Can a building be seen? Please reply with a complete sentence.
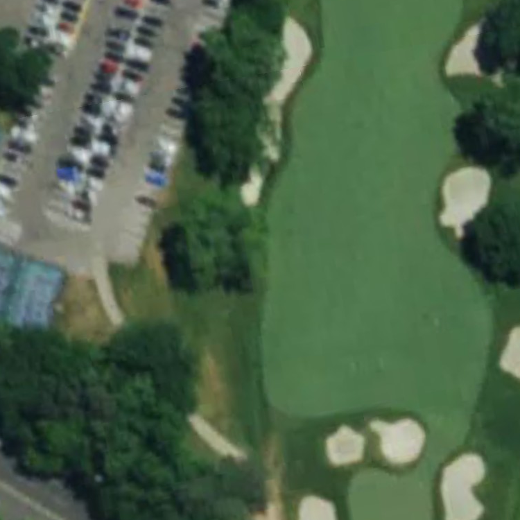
No, I can see no building in this picture.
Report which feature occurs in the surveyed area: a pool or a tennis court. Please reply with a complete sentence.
There is a tennis court in the scene.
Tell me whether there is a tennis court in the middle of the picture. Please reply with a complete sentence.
No, the scene shows no tennis court in the middle of the picture.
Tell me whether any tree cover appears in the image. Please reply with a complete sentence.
Yes, the picture does contain tree cover.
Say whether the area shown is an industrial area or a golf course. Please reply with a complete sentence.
This looks like a golf course.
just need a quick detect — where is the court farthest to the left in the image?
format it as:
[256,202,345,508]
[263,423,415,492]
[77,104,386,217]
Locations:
[0,248,20,313]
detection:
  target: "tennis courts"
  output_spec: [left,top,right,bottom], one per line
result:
[0,256,62,332]
[0,248,20,313]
